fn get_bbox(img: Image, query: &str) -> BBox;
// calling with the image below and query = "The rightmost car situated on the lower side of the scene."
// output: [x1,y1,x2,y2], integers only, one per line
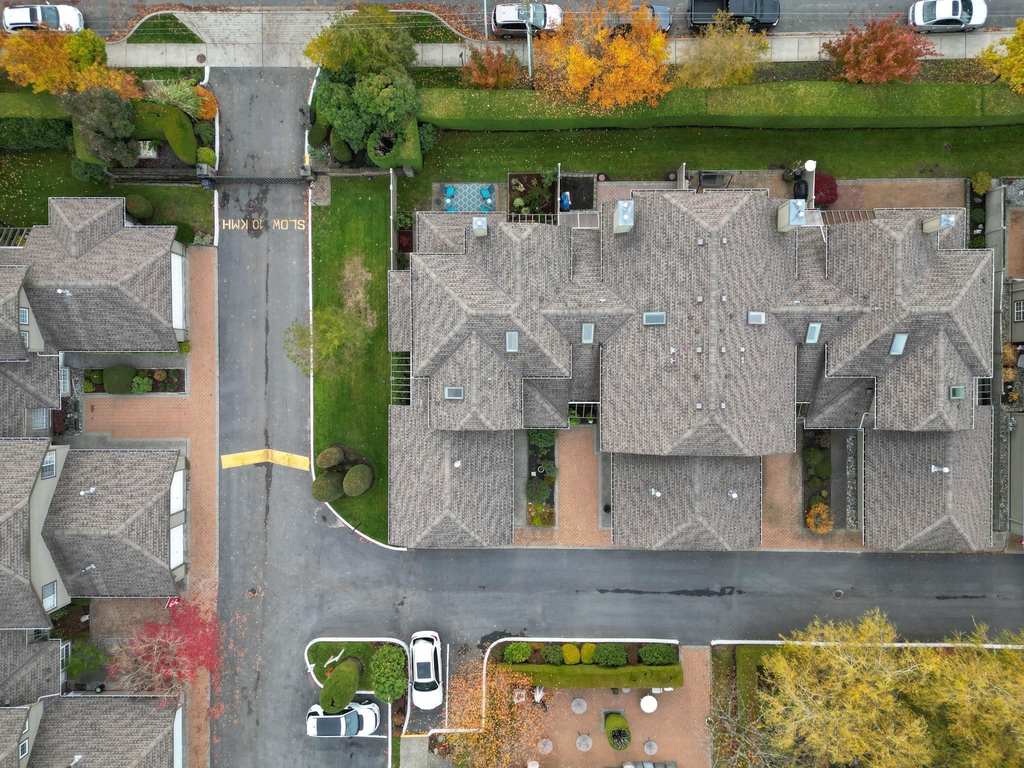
[407,631,445,708]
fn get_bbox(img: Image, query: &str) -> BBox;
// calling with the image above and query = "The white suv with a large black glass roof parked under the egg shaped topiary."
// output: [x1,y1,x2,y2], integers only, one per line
[308,697,381,742]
